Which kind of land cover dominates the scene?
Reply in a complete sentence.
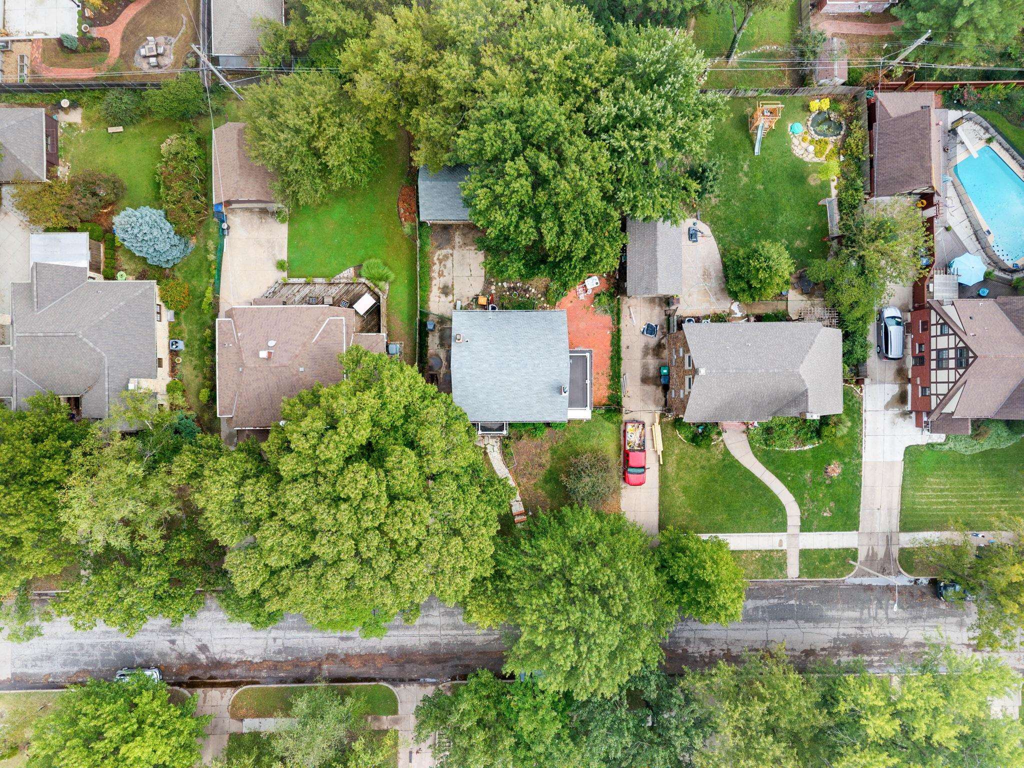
The bulk of the photo consists of trees.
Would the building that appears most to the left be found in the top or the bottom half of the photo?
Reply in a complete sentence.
The building that appears most to the left is in the top half of the image.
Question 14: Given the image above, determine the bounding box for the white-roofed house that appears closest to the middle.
[451,309,593,435]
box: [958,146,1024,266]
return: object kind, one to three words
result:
swimming pool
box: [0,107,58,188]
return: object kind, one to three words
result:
building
